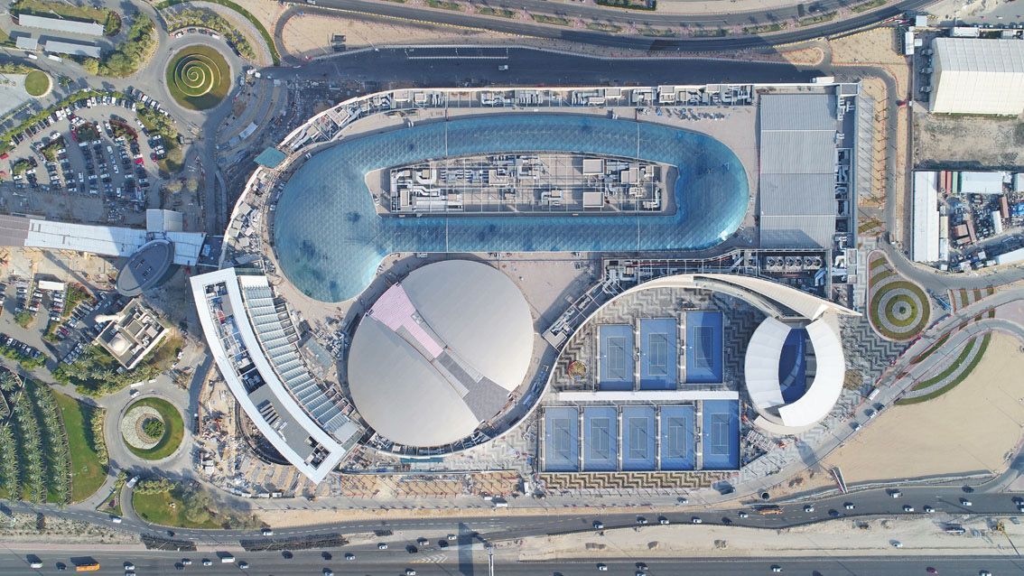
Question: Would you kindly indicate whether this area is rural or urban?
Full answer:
The area shown here is urban.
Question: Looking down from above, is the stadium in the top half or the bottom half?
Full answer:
You can find the stadium in the bottom half.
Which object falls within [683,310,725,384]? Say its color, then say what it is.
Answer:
blue tennis court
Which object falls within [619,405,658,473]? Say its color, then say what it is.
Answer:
blue tennis court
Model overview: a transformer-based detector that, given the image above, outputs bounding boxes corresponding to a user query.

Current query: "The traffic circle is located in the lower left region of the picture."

[105,381,198,475]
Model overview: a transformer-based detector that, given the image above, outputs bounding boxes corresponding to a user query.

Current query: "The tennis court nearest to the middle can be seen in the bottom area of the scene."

[596,324,634,391]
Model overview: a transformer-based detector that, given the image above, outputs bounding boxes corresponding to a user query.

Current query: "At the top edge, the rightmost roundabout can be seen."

[145,25,251,130]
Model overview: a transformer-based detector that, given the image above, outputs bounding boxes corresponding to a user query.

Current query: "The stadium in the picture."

[740,317,847,435]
